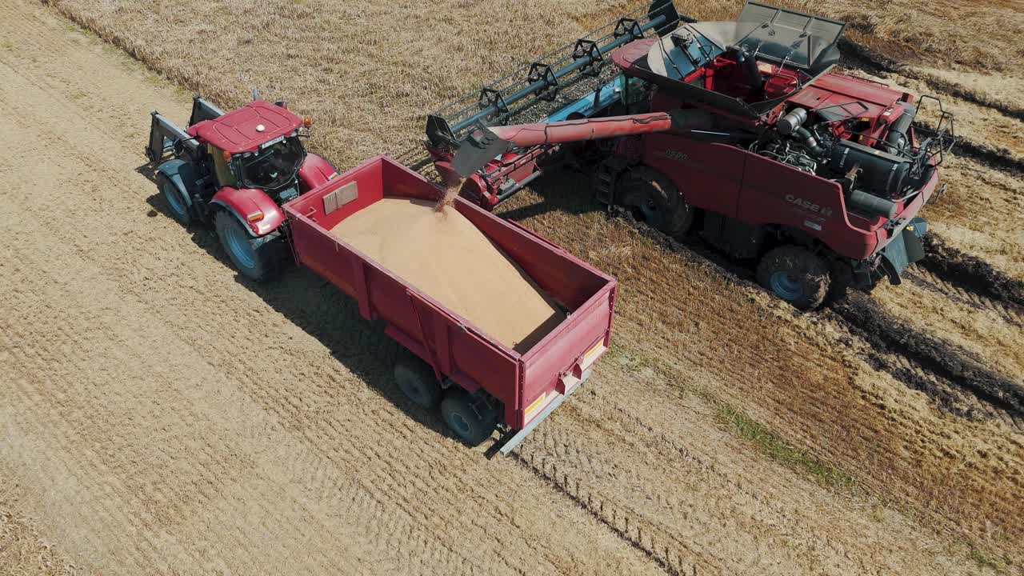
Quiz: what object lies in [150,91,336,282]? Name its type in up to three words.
work vehicle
